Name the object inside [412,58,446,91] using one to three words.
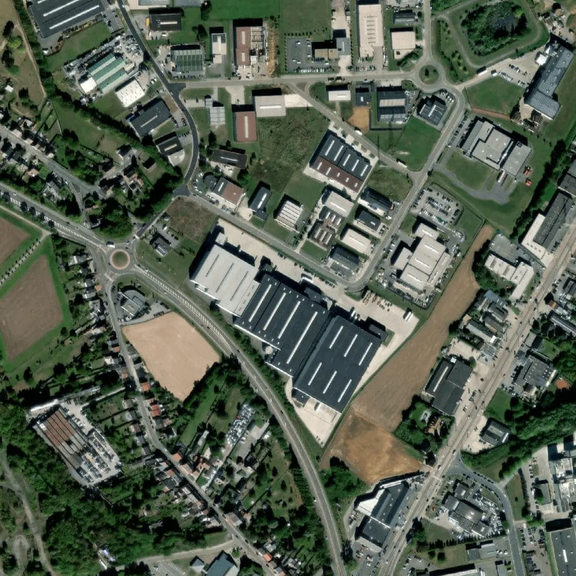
roundabout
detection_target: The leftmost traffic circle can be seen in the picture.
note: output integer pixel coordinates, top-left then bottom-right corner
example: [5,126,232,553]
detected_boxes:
[103,242,136,276]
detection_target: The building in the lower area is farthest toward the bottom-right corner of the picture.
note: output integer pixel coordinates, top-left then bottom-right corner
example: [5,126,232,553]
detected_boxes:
[548,528,576,576]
